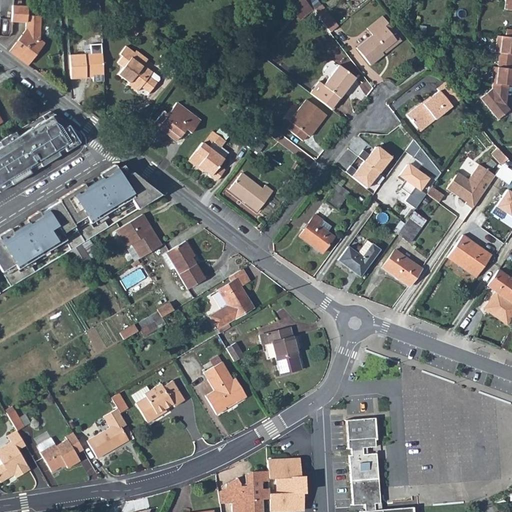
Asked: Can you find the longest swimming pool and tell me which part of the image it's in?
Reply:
left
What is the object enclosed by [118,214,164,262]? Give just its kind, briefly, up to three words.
house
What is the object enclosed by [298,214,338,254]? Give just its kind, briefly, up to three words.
house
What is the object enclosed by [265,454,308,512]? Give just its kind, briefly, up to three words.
building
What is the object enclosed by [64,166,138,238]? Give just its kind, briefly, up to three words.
building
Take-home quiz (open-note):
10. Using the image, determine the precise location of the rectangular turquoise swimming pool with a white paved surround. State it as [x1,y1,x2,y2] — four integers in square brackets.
[120,266,148,290]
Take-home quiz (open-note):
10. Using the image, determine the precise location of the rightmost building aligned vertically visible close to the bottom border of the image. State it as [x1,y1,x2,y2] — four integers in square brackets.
[342,418,384,505]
